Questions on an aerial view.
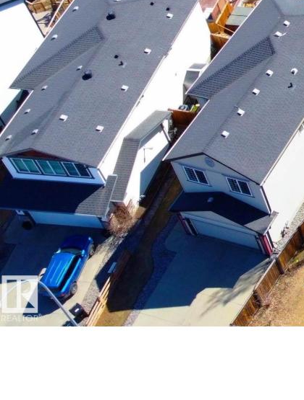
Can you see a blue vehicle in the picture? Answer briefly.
Yes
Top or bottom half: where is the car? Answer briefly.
bottom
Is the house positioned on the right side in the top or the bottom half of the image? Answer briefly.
top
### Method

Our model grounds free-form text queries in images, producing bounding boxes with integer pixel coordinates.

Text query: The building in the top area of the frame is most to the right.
[160,0,304,260]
